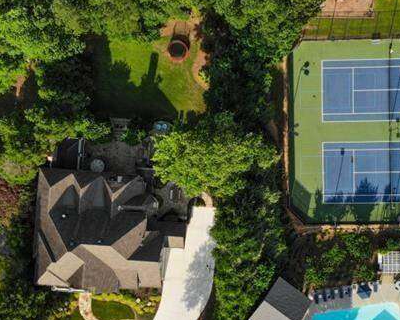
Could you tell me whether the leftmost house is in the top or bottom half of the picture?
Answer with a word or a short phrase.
bottom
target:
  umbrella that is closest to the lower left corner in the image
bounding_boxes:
[91,158,105,172]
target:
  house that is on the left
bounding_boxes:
[34,138,184,293]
